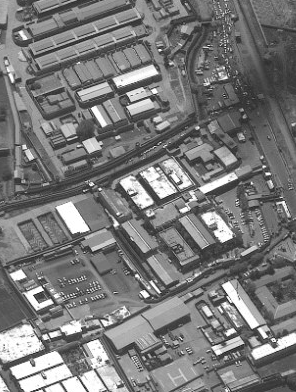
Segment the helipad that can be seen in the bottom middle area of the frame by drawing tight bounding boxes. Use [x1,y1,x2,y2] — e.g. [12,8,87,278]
[150,357,202,392]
